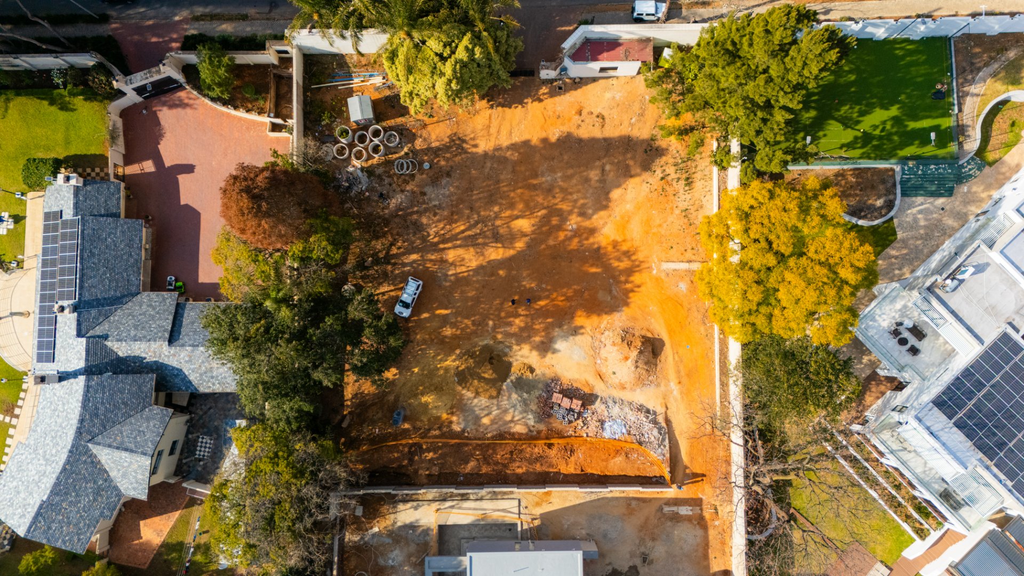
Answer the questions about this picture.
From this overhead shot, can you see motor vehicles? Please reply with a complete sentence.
Yes, the image includes a motor vehicle.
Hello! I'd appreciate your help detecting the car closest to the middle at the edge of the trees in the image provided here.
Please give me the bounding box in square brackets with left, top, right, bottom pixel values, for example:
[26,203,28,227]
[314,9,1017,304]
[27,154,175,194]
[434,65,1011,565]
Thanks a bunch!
[392,274,424,321]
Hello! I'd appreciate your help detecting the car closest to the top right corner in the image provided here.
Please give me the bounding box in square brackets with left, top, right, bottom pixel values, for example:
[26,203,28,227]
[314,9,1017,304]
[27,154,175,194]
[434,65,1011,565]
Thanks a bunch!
[634,3,667,22]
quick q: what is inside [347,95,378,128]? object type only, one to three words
shed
